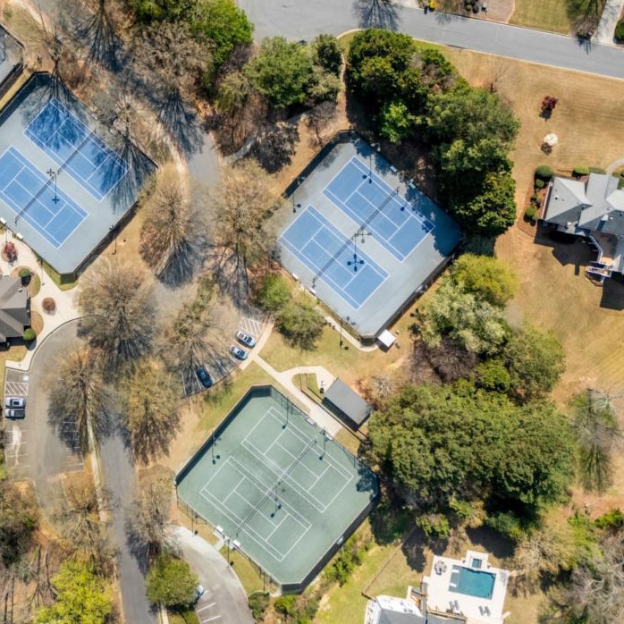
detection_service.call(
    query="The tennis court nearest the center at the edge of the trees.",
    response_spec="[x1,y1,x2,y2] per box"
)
[277,203,389,310]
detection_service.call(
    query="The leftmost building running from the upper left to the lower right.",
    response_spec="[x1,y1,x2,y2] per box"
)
[324,376,372,424]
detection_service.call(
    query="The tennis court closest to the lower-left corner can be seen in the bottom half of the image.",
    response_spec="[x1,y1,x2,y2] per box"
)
[199,455,312,561]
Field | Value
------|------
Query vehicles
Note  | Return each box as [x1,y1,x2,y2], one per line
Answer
[4,397,25,408]
[3,408,26,420]
[229,344,249,361]
[197,366,213,388]
[236,330,258,348]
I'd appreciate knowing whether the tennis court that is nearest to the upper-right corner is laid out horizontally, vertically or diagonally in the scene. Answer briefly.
diagonally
